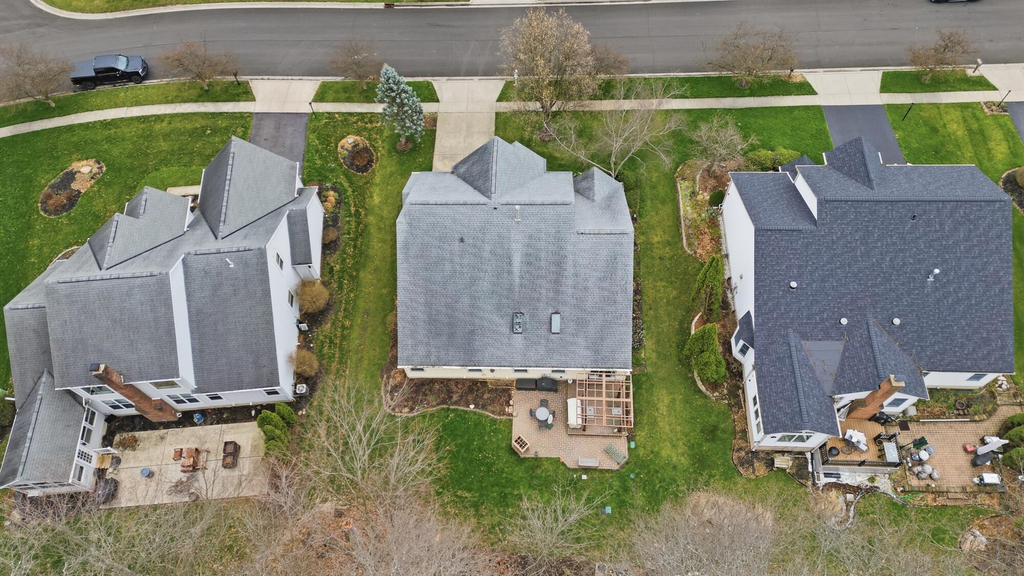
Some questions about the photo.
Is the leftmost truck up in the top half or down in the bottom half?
top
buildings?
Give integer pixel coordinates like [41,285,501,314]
[0,137,321,495]
[396,137,633,380]
[707,138,1014,470]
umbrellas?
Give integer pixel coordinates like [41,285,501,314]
[907,436,928,452]
[973,437,1013,457]
[545,417,554,430]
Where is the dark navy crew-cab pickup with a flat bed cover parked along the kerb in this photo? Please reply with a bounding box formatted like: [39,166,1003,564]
[67,53,151,93]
